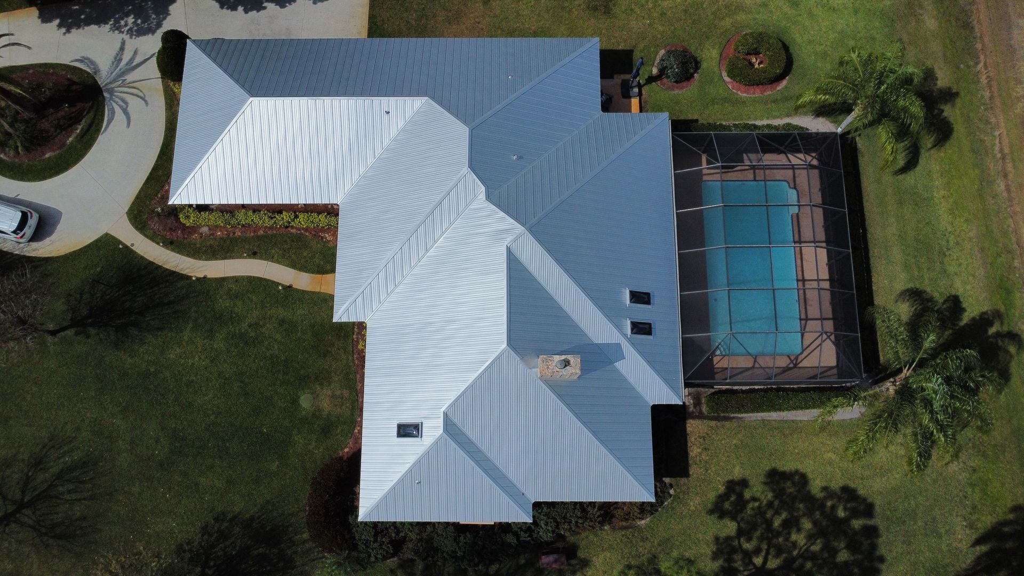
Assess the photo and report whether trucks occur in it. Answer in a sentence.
No, there's no truck here.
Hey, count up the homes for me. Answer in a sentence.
Only 1 home is visible.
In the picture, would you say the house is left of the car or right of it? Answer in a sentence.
Relative to the car, the house is on the right.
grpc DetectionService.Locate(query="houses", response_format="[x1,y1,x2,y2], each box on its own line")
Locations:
[167,37,684,524]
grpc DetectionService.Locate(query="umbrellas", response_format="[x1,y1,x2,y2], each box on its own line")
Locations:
[621,60,643,99]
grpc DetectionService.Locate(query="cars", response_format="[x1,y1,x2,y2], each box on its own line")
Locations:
[0,204,41,245]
